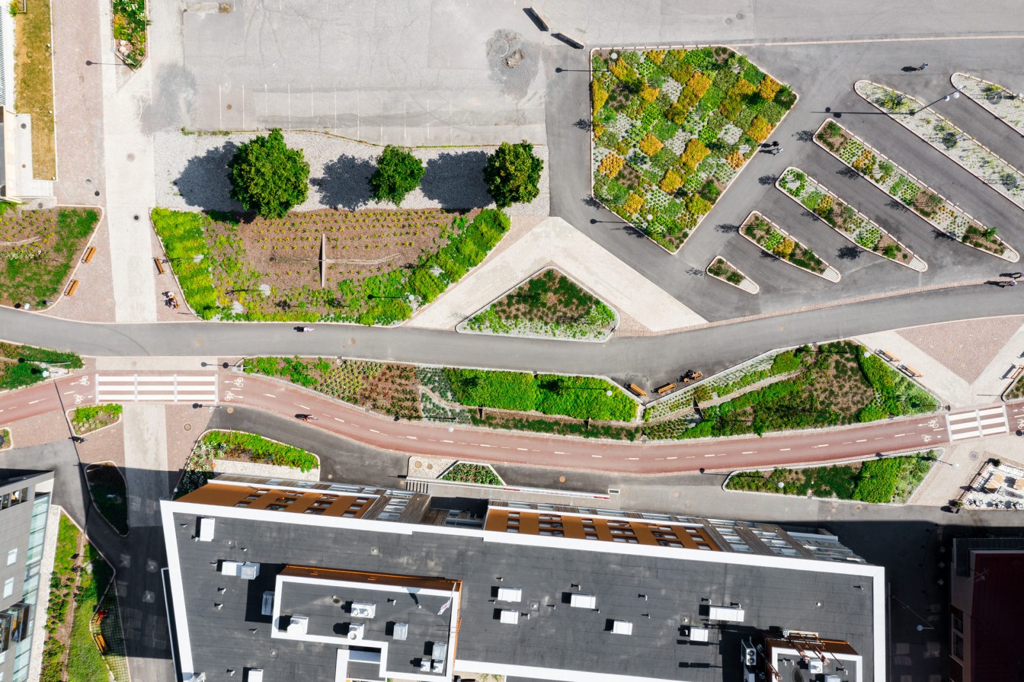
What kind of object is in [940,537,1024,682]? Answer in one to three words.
building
